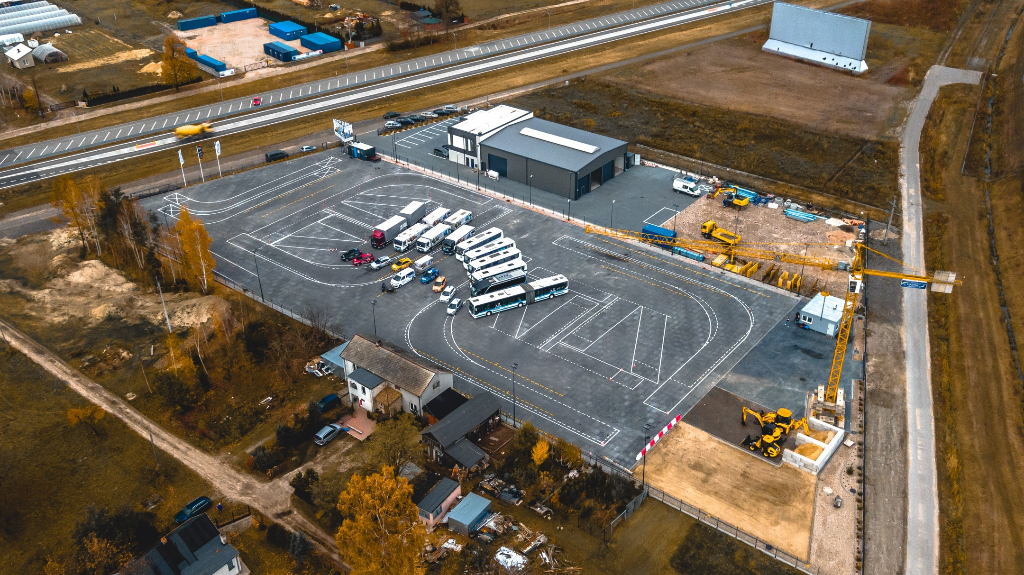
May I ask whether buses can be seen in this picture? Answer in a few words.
Yes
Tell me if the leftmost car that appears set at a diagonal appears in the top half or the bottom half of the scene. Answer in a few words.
bottom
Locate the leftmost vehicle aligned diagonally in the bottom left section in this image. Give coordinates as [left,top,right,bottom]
[169,490,212,521]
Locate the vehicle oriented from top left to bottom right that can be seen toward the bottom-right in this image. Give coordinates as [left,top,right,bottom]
[741,405,787,444]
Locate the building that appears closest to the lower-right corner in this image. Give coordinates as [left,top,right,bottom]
[801,297,847,340]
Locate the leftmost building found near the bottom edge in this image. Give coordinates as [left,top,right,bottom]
[103,511,236,575]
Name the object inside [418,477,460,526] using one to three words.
shed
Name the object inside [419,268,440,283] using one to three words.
car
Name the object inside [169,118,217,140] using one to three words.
truck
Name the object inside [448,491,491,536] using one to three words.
building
